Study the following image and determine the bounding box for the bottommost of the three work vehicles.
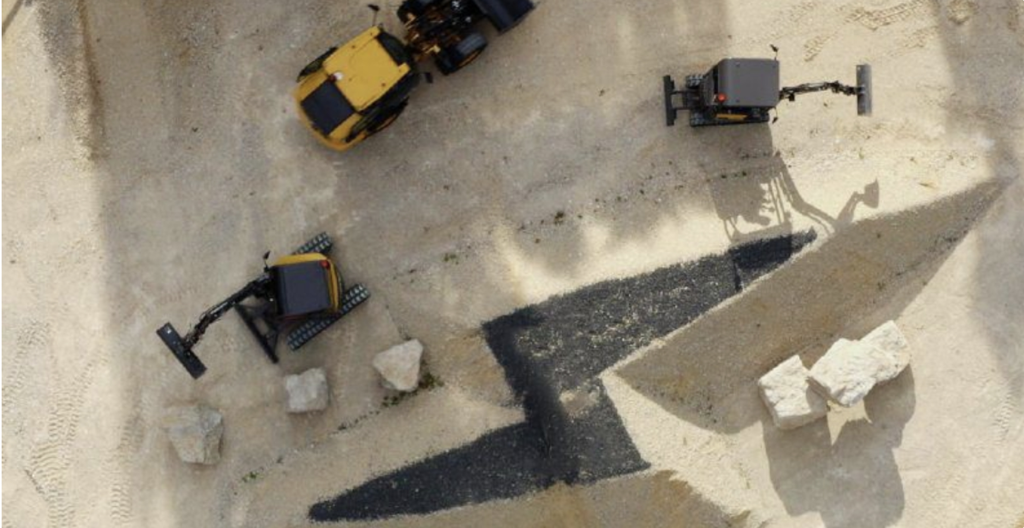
[158,232,372,380]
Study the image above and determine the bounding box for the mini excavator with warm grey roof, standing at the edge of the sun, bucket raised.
[661,46,874,129]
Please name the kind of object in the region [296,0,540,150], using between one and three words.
work vehicle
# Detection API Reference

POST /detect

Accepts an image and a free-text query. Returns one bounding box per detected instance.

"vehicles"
[661,46,874,129]
[158,232,372,380]
[296,0,540,150]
